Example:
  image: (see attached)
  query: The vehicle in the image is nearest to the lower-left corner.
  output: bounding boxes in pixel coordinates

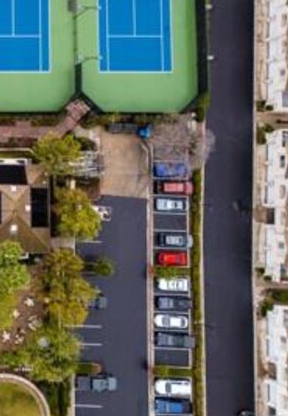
[78,376,117,394]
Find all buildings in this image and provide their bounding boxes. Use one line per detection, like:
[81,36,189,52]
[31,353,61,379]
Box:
[260,129,288,279]
[0,164,51,255]
[260,0,288,107]
[260,312,288,416]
